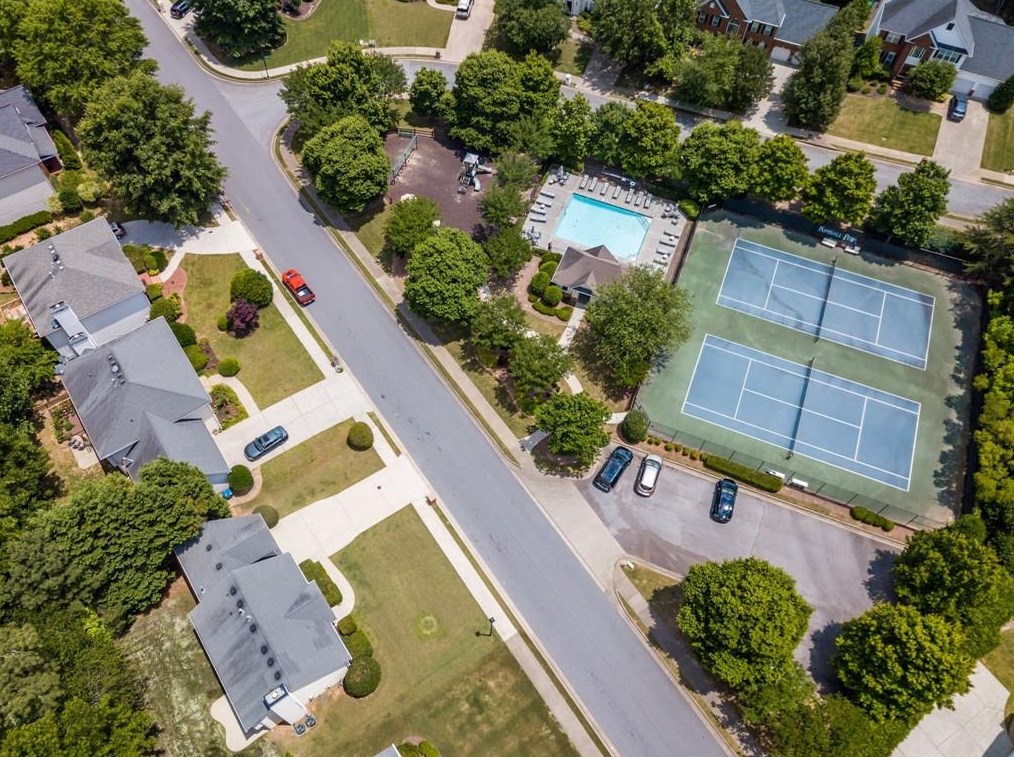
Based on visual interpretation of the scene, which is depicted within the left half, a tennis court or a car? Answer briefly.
car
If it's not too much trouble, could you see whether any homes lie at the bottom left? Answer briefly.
Yes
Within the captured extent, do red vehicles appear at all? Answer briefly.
Yes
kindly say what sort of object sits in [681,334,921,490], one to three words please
tennis court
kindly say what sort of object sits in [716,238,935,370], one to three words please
tennis court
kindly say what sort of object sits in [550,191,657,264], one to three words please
swimming pool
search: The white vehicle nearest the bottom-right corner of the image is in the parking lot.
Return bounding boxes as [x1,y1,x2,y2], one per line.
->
[634,456,662,500]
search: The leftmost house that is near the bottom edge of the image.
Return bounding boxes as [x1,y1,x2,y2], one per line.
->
[177,512,354,741]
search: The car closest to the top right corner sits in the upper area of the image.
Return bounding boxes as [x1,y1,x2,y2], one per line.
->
[946,98,967,124]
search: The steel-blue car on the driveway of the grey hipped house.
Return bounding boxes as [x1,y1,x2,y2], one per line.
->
[243,424,292,463]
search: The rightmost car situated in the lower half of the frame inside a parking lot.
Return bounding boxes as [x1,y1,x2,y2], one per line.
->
[710,480,738,527]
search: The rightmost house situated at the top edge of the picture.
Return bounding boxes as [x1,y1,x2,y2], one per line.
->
[870,0,1014,99]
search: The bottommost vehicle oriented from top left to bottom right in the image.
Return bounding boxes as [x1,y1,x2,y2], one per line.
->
[279,270,320,308]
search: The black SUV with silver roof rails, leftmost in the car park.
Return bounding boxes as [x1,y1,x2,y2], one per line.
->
[594,447,631,495]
